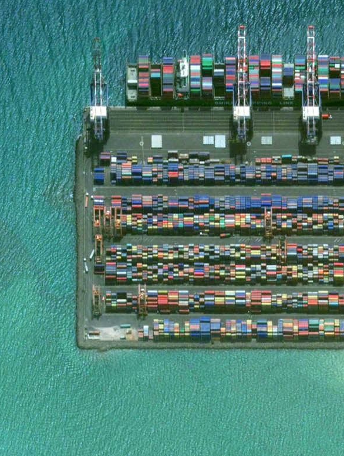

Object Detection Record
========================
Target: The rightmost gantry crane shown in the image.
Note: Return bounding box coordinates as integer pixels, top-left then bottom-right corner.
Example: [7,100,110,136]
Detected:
[300,26,321,143]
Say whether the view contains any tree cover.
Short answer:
No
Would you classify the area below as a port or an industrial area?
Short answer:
port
